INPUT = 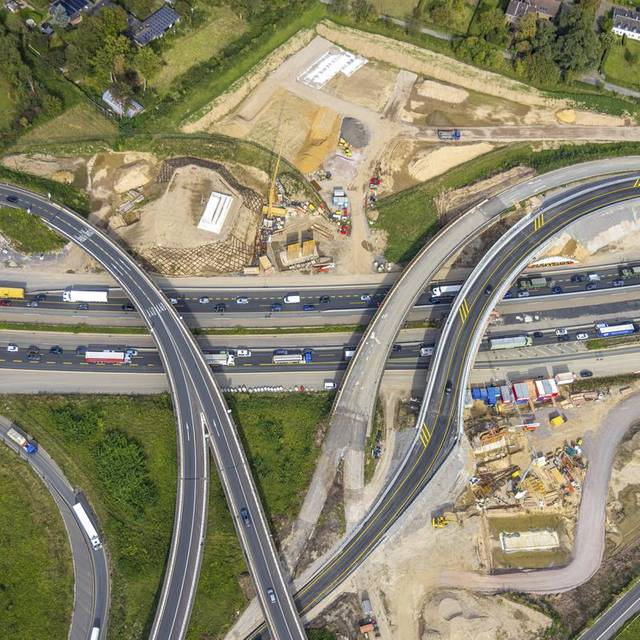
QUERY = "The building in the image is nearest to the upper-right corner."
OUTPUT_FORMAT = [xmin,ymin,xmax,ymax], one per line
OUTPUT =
[608,9,640,41]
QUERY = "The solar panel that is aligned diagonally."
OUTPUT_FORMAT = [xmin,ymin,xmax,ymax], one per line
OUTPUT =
[137,1,182,41]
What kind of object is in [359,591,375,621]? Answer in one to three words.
vehicle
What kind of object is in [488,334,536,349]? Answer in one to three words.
vehicle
